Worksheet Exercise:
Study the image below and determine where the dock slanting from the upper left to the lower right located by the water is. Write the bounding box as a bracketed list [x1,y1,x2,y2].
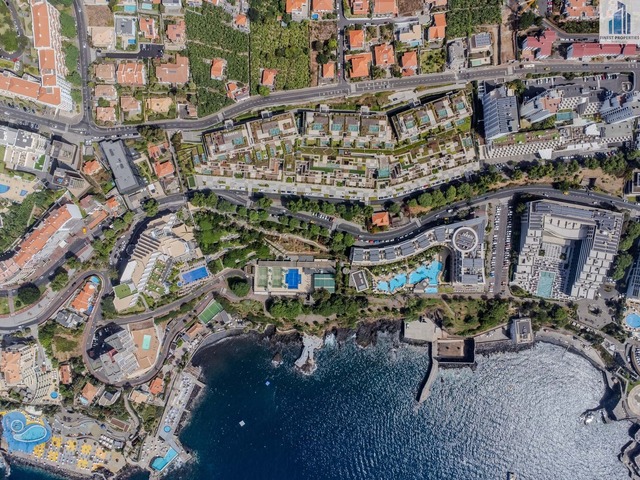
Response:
[170,434,193,462]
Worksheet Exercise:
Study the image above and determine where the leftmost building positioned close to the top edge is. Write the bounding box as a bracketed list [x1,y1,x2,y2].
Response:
[0,0,76,115]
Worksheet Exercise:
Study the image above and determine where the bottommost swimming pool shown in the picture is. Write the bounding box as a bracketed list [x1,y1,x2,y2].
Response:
[149,446,178,472]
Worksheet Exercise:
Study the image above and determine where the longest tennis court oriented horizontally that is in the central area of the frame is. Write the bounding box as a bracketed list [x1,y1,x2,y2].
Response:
[254,266,311,292]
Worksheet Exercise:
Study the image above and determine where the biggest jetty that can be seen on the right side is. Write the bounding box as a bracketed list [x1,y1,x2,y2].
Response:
[416,359,438,401]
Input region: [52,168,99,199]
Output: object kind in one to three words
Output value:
building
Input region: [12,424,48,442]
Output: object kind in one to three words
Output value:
swimming pool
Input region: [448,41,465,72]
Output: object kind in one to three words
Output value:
house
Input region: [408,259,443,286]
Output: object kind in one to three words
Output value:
swimming pool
